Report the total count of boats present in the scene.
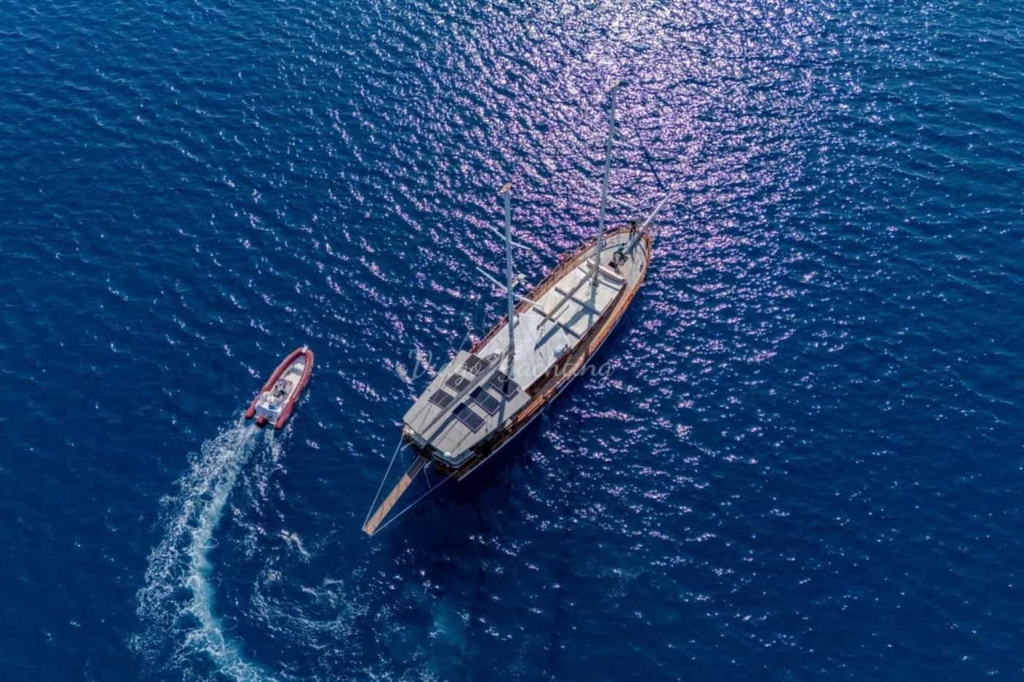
2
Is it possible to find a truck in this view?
No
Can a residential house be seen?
No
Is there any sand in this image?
No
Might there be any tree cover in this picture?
No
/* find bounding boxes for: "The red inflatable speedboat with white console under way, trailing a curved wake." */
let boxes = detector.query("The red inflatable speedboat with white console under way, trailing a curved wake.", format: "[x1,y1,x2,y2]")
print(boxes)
[247,343,312,429]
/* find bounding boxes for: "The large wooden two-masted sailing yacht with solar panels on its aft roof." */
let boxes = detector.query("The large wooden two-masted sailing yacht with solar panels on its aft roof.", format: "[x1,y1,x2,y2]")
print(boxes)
[360,78,668,539]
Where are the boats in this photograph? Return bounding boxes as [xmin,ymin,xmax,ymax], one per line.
[247,343,312,429]
[360,78,668,539]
